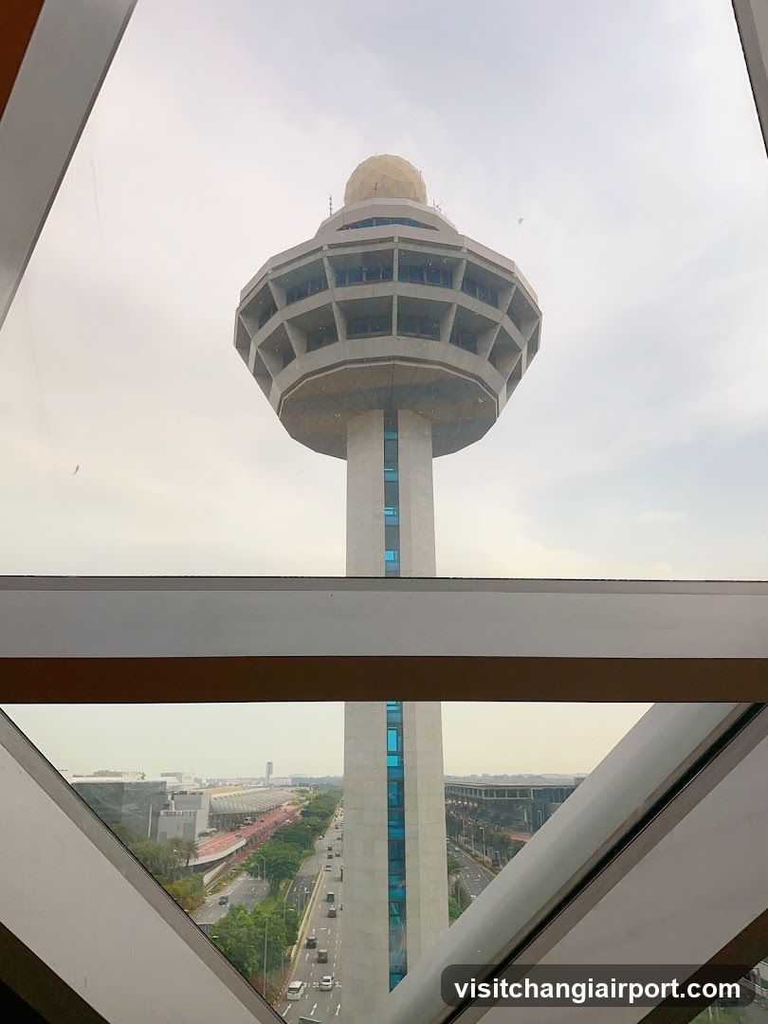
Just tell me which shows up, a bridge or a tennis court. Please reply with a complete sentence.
I can see a bridge in this picture.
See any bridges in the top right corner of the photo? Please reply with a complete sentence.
No, there is no bridge in the top right corner of the photo.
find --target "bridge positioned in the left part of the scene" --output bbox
[184,801,315,883]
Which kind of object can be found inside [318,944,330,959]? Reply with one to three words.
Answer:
vehicle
